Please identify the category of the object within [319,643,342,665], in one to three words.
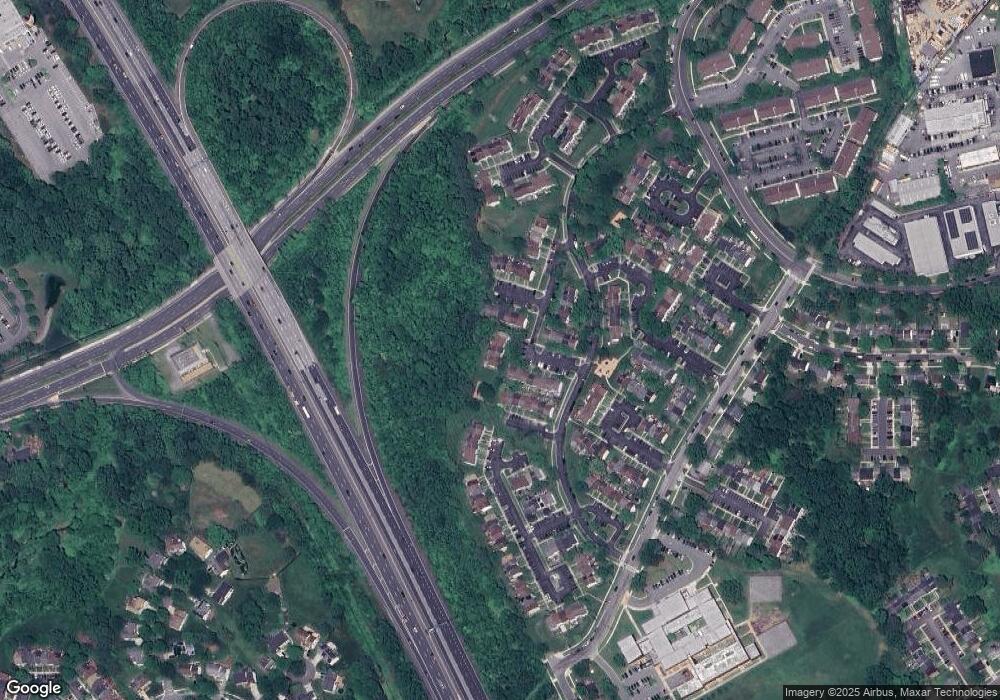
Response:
house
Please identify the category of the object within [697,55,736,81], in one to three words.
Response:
building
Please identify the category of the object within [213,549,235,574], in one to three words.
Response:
house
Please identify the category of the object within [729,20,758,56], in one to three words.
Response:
building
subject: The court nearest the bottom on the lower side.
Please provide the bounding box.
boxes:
[759,622,796,656]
